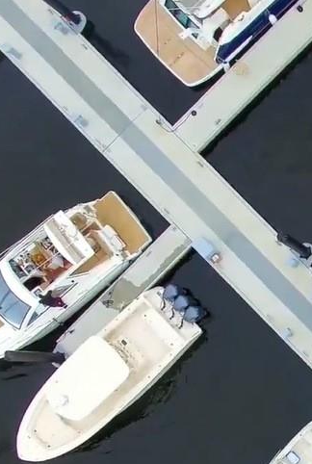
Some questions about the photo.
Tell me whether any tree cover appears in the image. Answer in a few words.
No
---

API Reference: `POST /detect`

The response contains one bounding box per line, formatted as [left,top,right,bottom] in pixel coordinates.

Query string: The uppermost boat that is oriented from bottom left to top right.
[0,191,151,357]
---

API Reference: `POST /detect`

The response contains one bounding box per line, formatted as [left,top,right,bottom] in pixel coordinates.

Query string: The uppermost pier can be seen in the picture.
[172,0,312,151]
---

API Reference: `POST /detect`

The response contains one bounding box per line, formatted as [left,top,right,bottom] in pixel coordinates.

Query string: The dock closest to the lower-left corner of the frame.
[53,222,195,361]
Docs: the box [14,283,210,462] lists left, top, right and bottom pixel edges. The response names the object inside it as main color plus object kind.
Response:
white boat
